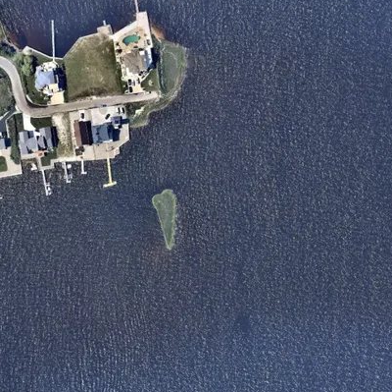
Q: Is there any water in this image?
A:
Yes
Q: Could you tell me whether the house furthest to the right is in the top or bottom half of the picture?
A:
top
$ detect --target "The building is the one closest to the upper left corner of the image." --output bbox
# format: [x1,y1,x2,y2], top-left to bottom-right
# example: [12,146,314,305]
[34,68,59,92]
